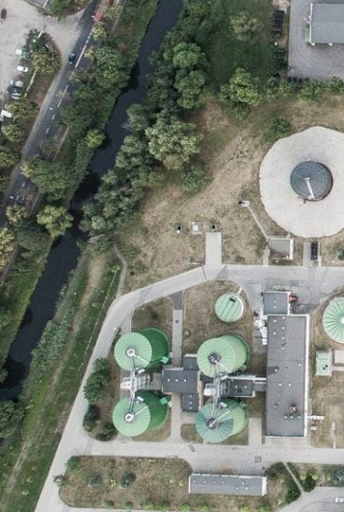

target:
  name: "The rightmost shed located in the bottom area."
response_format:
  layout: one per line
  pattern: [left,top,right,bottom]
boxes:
[316,350,331,376]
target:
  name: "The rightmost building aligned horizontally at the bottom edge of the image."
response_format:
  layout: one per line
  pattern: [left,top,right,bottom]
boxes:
[190,471,270,496]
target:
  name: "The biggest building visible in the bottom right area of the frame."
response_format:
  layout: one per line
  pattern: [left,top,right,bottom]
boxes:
[266,315,324,437]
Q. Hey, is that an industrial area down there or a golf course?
industrial area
